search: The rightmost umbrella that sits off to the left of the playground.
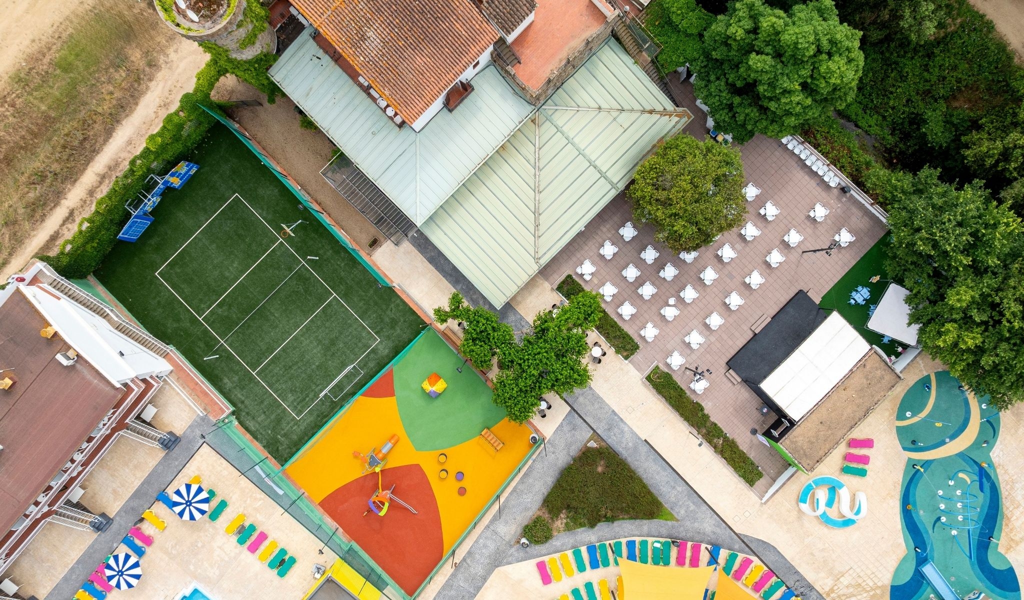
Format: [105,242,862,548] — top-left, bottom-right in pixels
[174,482,211,519]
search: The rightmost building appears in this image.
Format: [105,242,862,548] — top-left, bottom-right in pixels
[743,310,905,477]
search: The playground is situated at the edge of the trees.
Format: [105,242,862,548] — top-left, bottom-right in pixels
[286,330,540,595]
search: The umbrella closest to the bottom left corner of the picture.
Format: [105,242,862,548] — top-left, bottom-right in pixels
[103,551,140,588]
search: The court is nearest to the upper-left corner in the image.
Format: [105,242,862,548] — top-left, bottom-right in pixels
[95,128,432,461]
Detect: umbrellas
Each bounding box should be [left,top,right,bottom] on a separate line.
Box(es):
[103,551,140,588]
[174,482,211,519]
